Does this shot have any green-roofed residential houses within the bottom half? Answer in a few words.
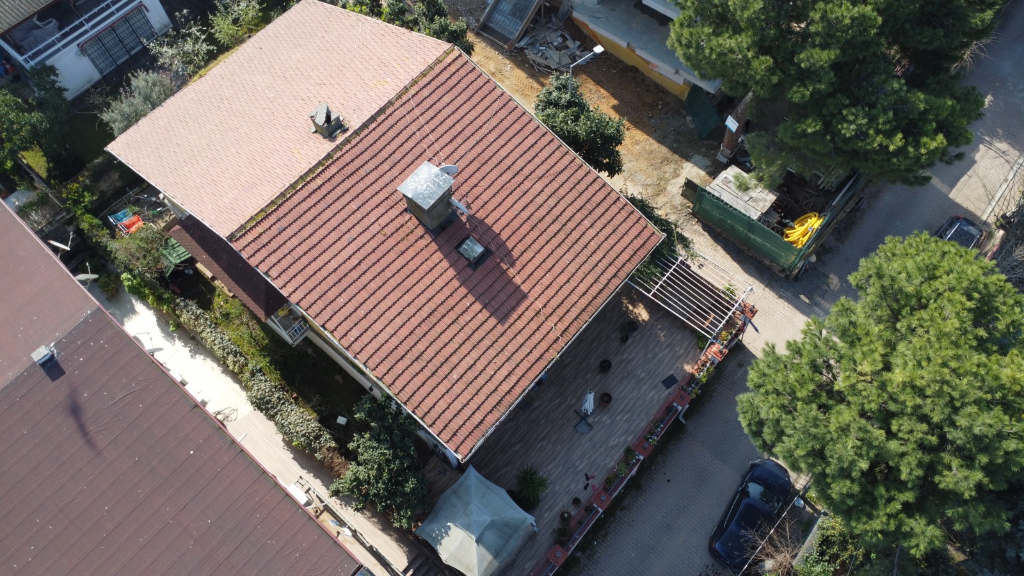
No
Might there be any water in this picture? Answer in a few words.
No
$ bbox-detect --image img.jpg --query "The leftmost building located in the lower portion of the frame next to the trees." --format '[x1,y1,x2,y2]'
[0,201,369,576]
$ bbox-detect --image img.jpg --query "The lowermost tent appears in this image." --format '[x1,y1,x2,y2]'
[412,465,536,576]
